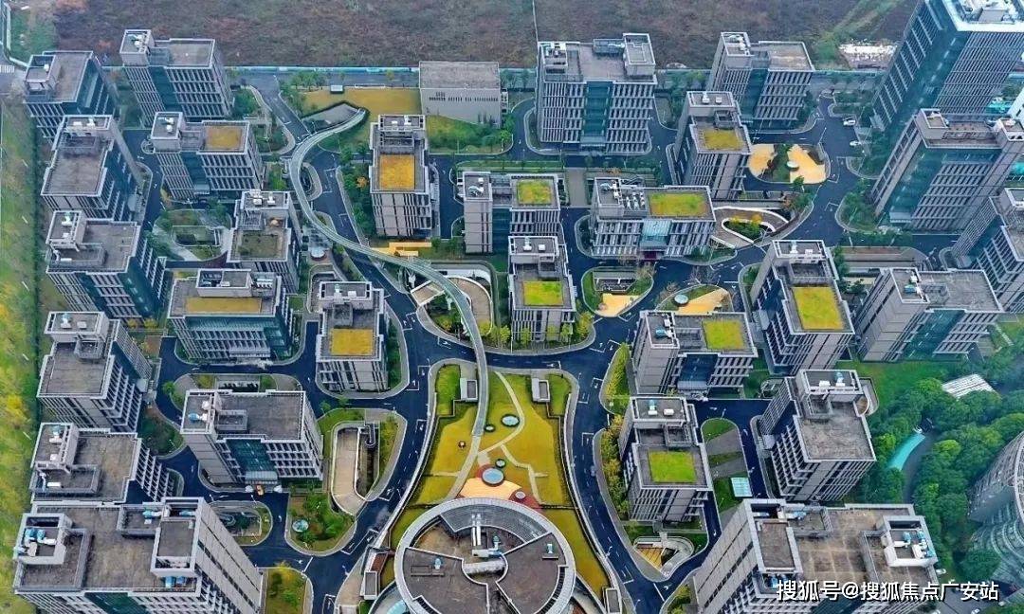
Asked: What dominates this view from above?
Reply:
buildings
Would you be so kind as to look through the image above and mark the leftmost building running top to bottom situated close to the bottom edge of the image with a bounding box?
[364,572,379,602]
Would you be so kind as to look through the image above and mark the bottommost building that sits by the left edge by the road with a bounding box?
[15,497,260,614]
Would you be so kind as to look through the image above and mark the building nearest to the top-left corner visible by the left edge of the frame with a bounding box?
[24,51,117,145]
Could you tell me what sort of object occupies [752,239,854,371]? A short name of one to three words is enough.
building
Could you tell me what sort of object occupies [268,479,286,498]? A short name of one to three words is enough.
car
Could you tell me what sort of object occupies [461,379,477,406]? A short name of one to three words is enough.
building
